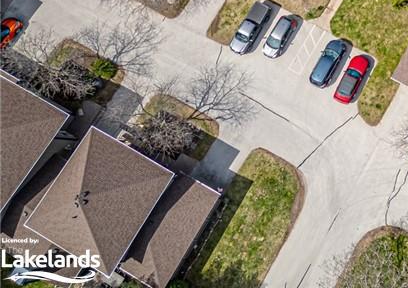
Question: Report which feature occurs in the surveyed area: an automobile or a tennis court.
automobile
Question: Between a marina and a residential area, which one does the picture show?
residential area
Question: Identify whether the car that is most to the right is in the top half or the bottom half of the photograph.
top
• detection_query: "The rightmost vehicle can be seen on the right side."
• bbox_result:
[333,56,368,103]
